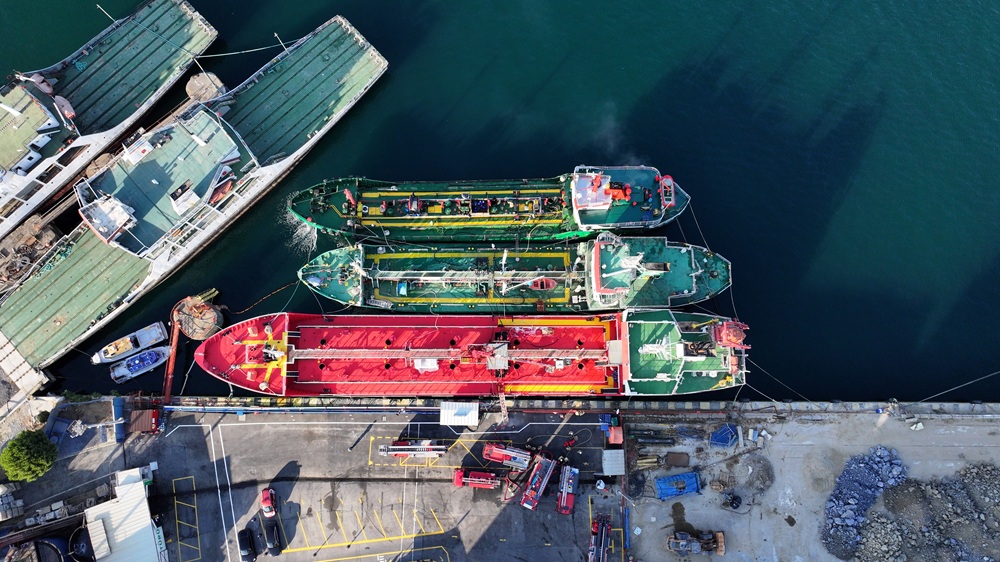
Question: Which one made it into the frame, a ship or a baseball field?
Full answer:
I can see a ship in this picture.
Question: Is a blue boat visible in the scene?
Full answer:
Yes, looking at the shot, I can spot a blue boat.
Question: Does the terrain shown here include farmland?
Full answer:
No, the scene doesn't show any farmland.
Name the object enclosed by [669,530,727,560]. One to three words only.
work vehicle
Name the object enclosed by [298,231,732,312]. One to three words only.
ship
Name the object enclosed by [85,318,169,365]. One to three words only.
boat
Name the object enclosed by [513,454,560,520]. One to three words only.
truck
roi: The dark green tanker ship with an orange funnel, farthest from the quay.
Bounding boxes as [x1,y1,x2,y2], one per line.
[288,160,691,262]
